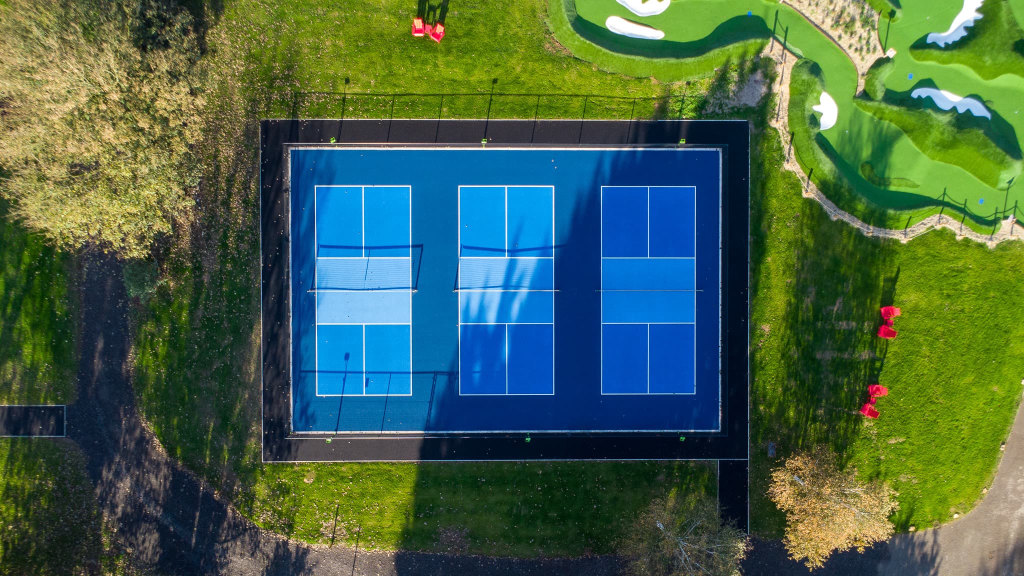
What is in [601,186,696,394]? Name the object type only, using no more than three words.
sports court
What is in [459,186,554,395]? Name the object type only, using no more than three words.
sports court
